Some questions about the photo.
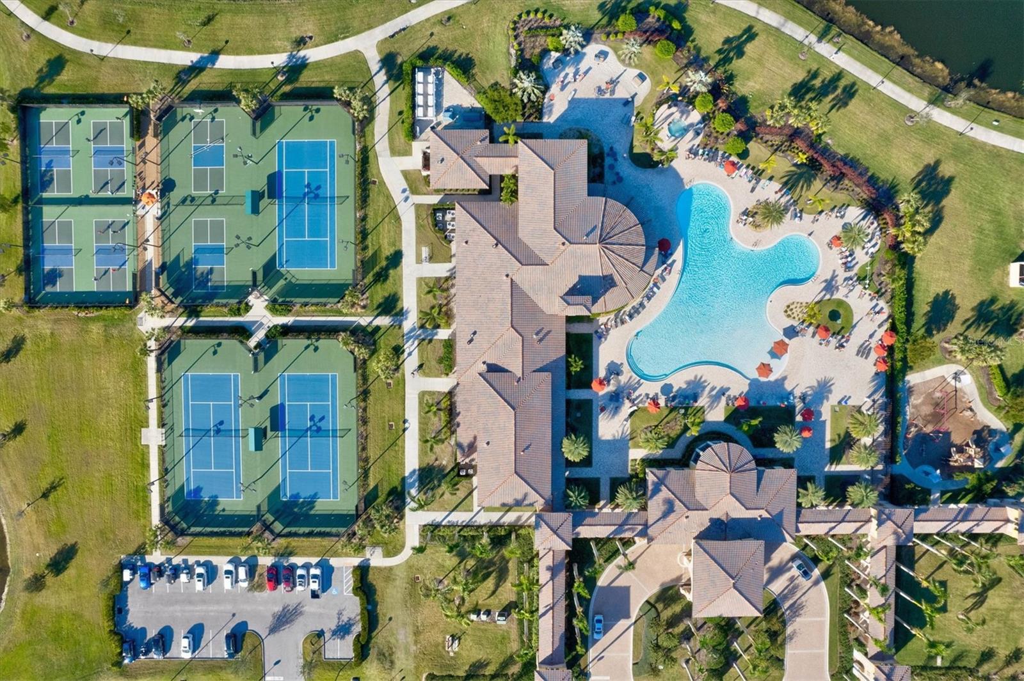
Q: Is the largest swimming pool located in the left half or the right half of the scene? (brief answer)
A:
right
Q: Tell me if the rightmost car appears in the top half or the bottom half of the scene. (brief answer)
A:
bottom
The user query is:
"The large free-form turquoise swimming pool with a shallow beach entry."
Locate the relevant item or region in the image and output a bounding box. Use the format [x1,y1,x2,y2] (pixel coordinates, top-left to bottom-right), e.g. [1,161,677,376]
[625,180,823,383]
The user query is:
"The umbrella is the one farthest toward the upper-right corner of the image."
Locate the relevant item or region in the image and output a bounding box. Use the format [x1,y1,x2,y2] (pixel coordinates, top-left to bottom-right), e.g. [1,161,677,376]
[828,234,844,249]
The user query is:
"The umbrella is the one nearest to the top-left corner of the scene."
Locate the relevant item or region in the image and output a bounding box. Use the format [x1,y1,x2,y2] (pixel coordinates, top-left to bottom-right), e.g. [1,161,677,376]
[142,191,159,207]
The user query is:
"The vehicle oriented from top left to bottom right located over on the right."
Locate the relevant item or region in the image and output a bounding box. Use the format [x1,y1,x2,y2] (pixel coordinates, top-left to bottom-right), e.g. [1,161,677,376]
[792,556,812,582]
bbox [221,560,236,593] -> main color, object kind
white vehicle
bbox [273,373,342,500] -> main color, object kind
blue tennis court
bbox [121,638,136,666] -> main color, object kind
blue car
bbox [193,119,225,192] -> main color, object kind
gray sports court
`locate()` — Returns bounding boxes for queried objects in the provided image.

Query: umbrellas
[828,234,844,249]
[956,374,972,385]
[815,324,830,340]
[734,395,749,410]
[771,340,787,356]
[873,356,889,372]
[880,330,896,345]
[872,342,888,357]
[798,424,813,440]
[644,397,660,413]
[798,407,814,422]
[721,160,737,176]
[756,361,771,378]
[659,237,672,253]
[142,191,159,207]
